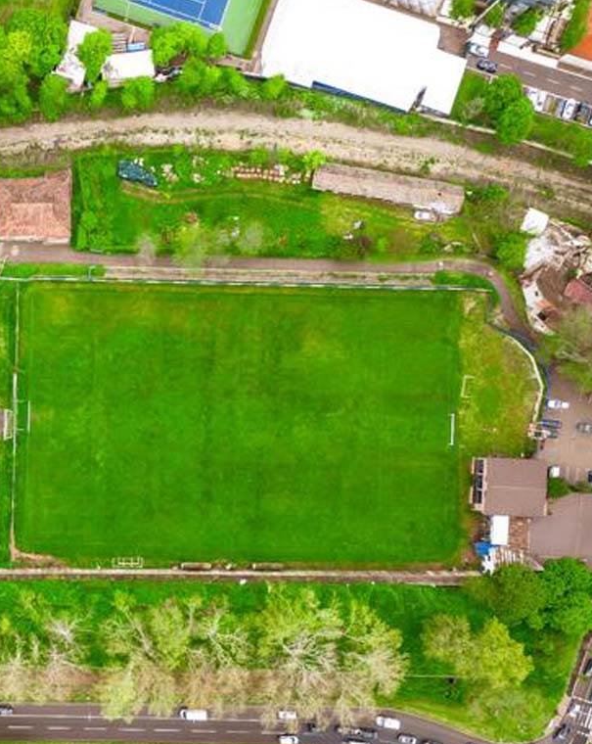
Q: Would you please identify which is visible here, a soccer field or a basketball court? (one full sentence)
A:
It is a soccer field that can be seen here.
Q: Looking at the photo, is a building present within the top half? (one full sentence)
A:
Yes, looking within the top half, one can make out a building.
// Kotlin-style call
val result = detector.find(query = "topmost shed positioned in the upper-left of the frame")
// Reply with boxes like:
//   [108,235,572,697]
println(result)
[68,19,96,48]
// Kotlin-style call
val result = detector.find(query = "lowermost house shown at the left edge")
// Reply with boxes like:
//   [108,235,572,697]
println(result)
[0,173,72,246]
